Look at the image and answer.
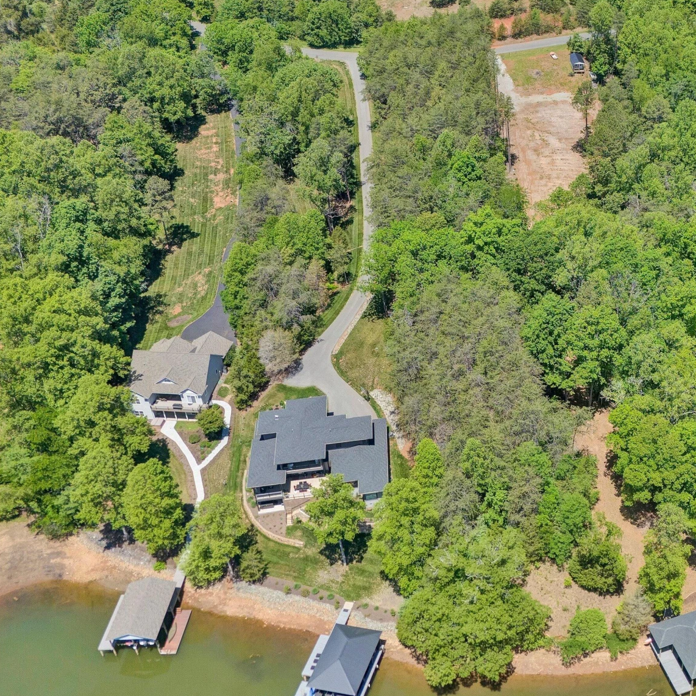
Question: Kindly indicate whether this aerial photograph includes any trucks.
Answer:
No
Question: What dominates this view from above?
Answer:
trees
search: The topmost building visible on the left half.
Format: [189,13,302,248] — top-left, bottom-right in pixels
[120,331,233,421]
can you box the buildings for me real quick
[120,331,233,421]
[645,611,696,696]
[99,573,190,657]
[565,51,584,72]
[295,602,385,696]
[247,394,390,522]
